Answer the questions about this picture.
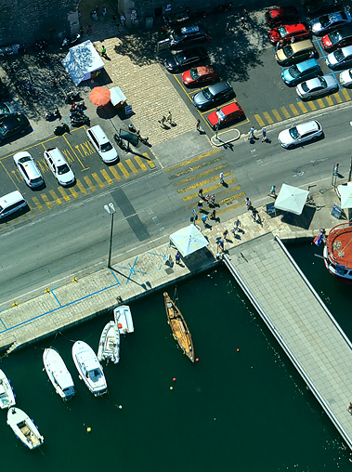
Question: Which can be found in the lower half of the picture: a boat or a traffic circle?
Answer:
boat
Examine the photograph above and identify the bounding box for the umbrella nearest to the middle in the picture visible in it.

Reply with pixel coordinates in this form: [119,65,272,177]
[167,222,212,260]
